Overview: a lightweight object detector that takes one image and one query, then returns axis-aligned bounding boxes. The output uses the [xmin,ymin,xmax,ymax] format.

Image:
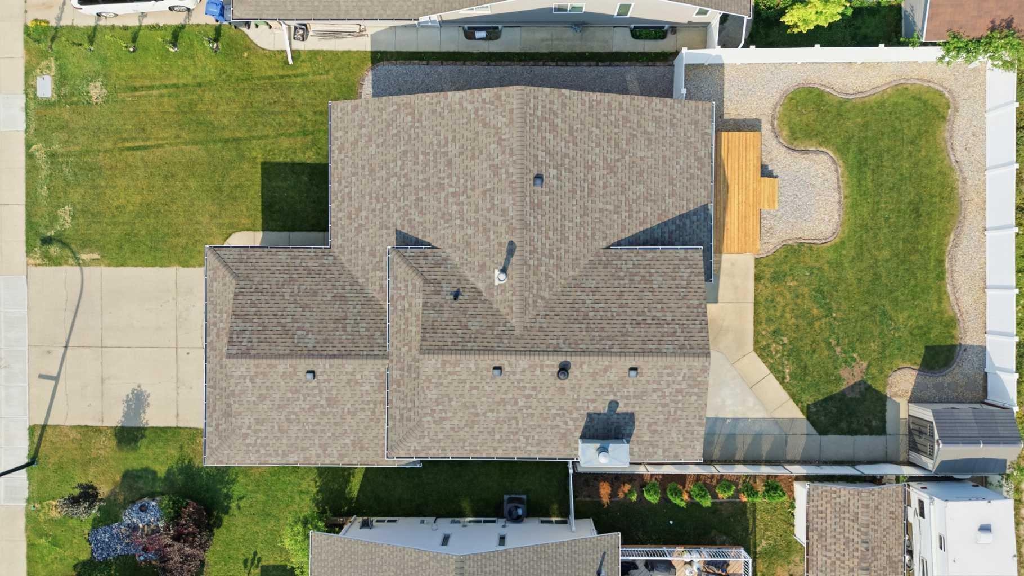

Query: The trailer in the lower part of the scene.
[905,479,1017,576]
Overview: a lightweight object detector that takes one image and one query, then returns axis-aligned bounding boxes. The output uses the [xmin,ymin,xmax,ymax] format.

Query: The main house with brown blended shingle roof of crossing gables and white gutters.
[205,83,713,467]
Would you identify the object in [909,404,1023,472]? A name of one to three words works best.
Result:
shed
